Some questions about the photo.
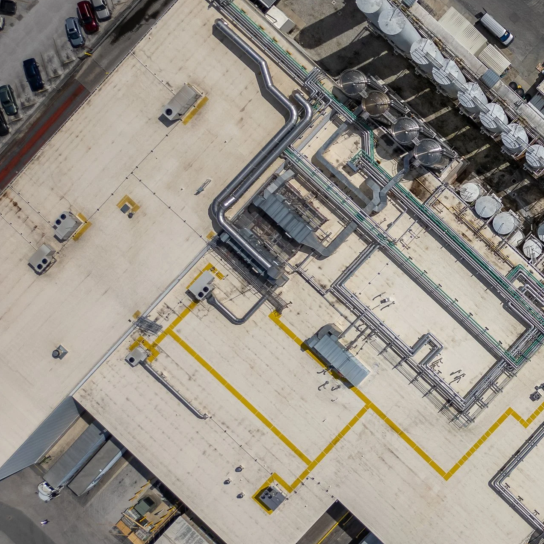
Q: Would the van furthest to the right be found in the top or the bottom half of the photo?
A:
top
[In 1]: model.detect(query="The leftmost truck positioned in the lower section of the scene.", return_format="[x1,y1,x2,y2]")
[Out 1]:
[36,474,76,503]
